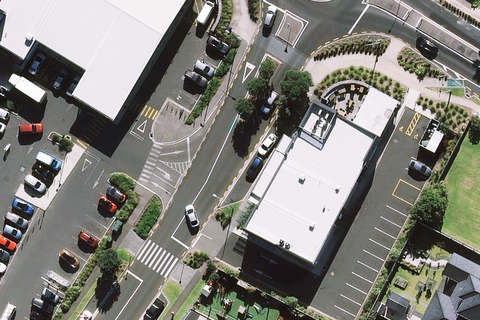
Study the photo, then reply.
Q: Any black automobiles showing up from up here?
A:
Yes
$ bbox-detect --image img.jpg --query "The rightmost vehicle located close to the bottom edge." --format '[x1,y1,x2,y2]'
[144,298,164,320]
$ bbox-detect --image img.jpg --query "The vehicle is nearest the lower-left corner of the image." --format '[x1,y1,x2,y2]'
[0,302,16,320]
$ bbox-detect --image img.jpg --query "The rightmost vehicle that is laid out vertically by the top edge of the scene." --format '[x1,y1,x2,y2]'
[262,7,276,29]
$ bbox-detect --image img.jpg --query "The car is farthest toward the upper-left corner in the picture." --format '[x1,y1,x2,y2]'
[28,52,46,76]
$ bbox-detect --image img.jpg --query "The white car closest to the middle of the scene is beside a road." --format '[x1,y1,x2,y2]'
[258,132,276,156]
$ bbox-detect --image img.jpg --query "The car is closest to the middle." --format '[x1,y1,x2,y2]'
[244,156,264,181]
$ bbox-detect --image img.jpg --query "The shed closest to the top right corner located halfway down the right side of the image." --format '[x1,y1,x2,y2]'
[418,119,444,154]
